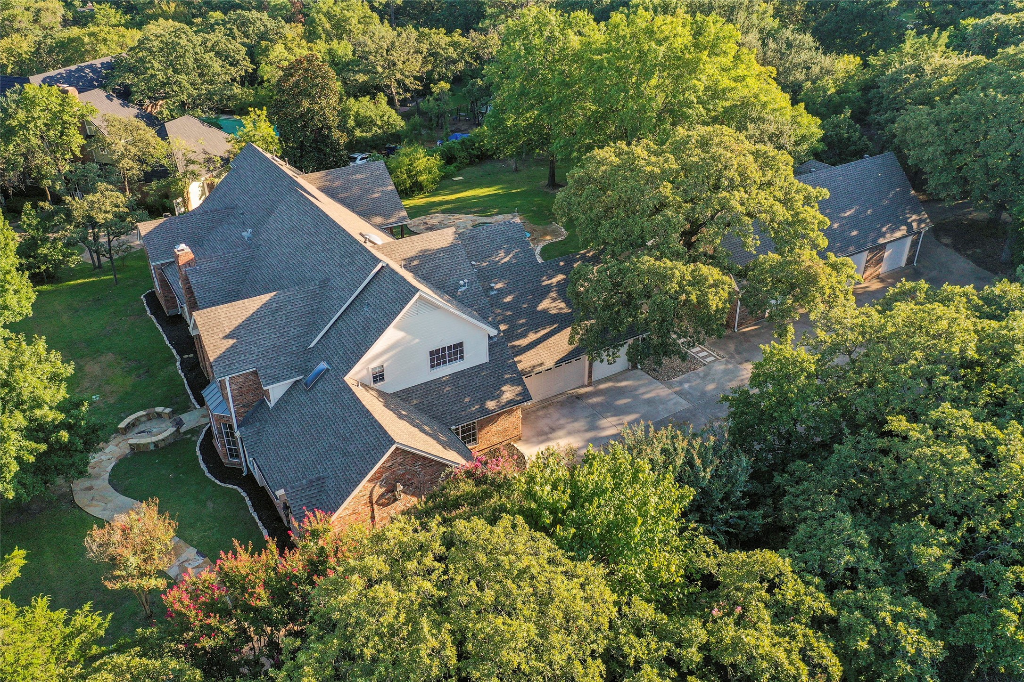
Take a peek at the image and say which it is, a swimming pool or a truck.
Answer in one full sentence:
The image shows a swimming pool.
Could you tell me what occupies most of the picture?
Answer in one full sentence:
The bulk of the photo consists of trees.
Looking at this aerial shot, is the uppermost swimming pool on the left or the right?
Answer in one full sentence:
You can find the uppermost swimming pool on the left side of the picture.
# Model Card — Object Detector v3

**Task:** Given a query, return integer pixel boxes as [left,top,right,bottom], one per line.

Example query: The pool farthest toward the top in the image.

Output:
[202,109,313,143]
